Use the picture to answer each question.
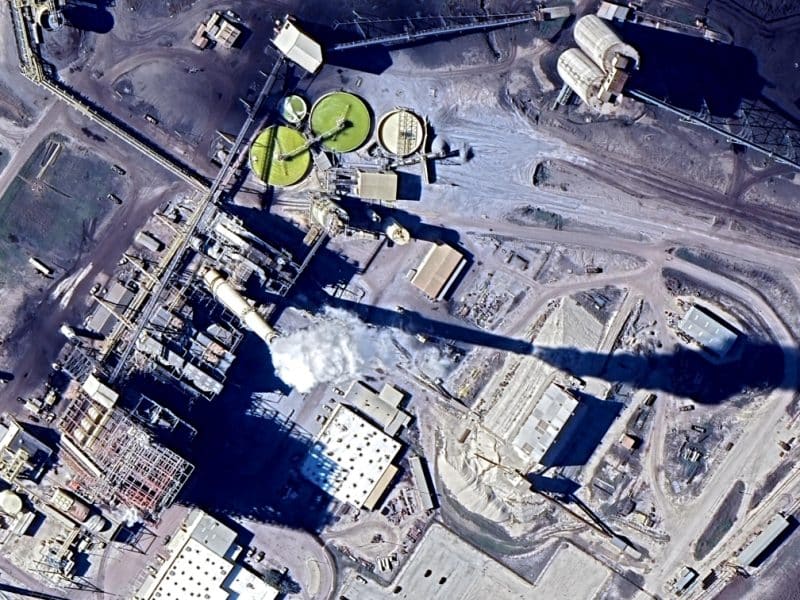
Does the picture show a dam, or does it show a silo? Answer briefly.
silo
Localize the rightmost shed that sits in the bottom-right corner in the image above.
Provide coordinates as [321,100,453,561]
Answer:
[737,510,790,566]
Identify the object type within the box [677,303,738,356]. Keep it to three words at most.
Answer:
shed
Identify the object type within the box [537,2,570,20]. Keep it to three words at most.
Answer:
house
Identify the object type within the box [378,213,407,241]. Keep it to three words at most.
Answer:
silo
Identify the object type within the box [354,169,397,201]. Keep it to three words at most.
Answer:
building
